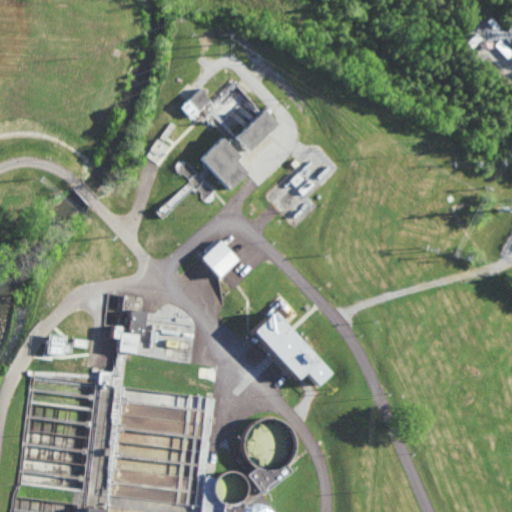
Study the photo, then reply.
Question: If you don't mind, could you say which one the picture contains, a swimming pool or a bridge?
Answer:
bridge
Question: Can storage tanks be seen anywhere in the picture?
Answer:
Yes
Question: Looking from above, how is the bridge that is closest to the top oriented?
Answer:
at an angle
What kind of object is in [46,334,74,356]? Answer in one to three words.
shed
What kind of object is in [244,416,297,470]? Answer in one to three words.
storage tank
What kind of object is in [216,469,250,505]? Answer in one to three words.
storage tank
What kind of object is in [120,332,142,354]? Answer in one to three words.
building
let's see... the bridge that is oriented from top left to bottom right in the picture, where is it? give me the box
[65,176,105,216]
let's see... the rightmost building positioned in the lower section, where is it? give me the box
[256,311,334,386]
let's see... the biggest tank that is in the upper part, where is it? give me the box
[157,162,226,220]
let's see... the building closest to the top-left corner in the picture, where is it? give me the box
[182,89,210,122]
